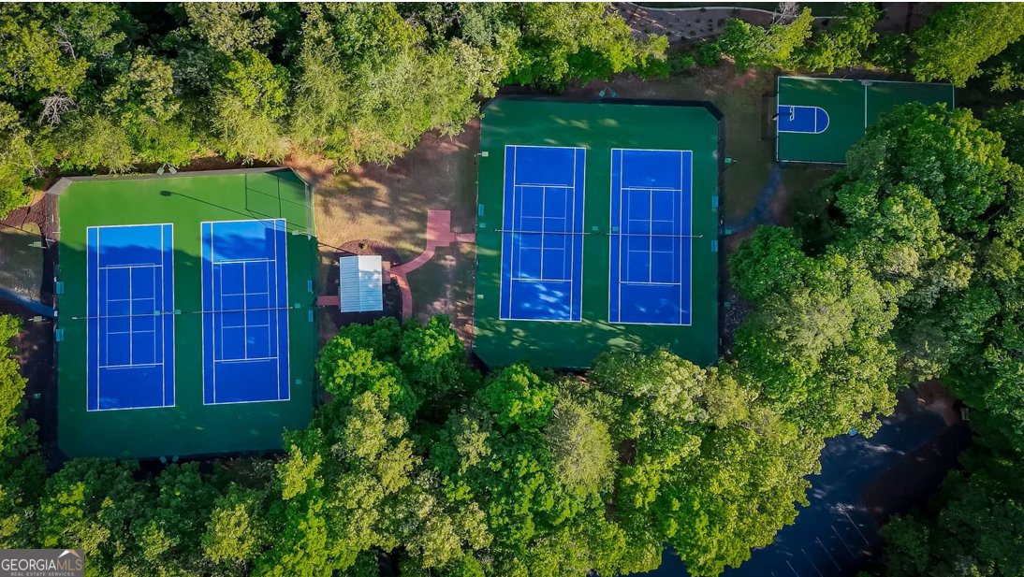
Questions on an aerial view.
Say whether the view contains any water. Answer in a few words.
No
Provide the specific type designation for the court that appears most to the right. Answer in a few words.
basketball court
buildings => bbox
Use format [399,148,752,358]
[340,255,385,312]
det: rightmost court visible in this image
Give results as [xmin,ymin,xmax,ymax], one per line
[777,76,955,164]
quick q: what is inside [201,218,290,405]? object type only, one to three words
tennis court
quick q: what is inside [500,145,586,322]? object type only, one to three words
tennis court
